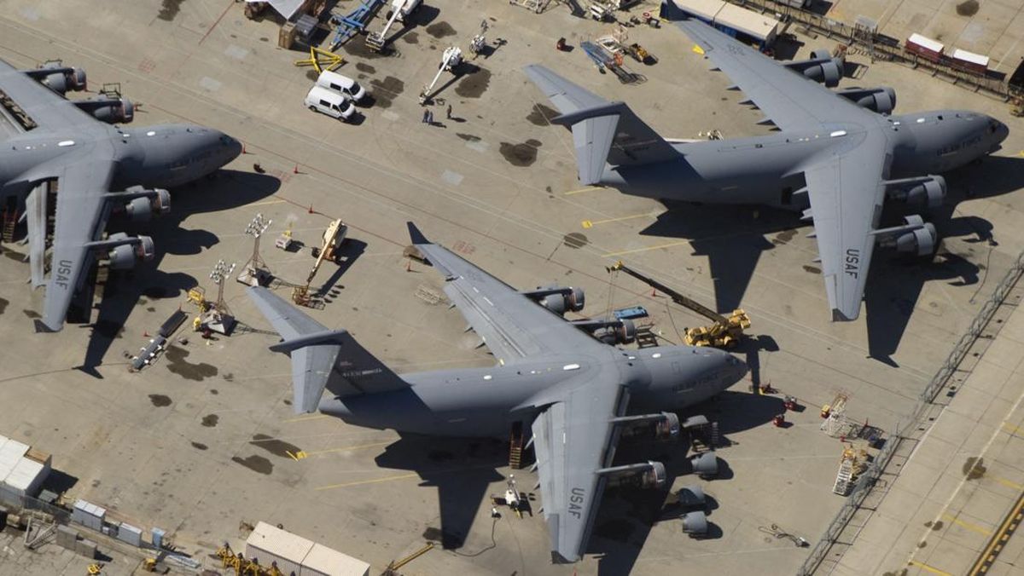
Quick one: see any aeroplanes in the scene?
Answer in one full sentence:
Yes, the image includes an aeroplane.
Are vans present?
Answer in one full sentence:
Yes, the picture does show a van.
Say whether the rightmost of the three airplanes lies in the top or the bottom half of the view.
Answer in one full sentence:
The rightmost of the three airplanes sits in the top half of the picture.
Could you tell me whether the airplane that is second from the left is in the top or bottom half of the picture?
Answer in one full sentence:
It is in the bottom half that the airplane that is second from the left appears.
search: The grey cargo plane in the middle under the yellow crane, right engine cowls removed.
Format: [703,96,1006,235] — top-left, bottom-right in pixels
[241,222,749,565]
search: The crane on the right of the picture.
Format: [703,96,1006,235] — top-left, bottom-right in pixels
[608,259,752,353]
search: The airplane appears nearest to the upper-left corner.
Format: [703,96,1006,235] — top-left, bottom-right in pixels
[0,58,244,334]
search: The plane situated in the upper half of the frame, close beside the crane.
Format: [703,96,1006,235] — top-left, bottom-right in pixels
[519,0,1007,323]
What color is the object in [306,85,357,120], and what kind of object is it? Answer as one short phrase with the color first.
white van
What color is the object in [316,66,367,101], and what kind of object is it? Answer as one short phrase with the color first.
white van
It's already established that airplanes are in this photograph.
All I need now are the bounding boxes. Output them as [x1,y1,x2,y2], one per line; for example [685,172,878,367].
[519,0,1007,323]
[0,58,244,334]
[241,222,749,565]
